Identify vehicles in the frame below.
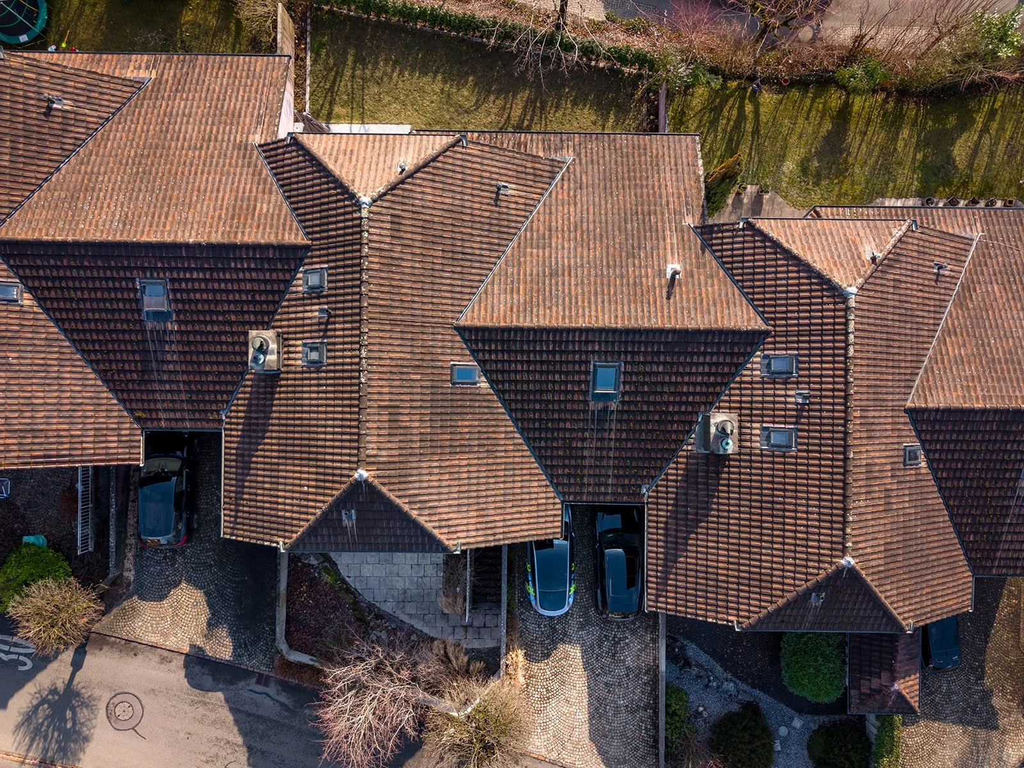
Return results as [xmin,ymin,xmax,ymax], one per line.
[923,617,968,670]
[593,508,643,619]
[528,510,582,615]
[136,434,200,546]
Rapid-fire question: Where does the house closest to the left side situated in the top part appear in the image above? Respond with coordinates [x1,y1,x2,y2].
[0,47,306,476]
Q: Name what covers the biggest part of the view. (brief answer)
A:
buildings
